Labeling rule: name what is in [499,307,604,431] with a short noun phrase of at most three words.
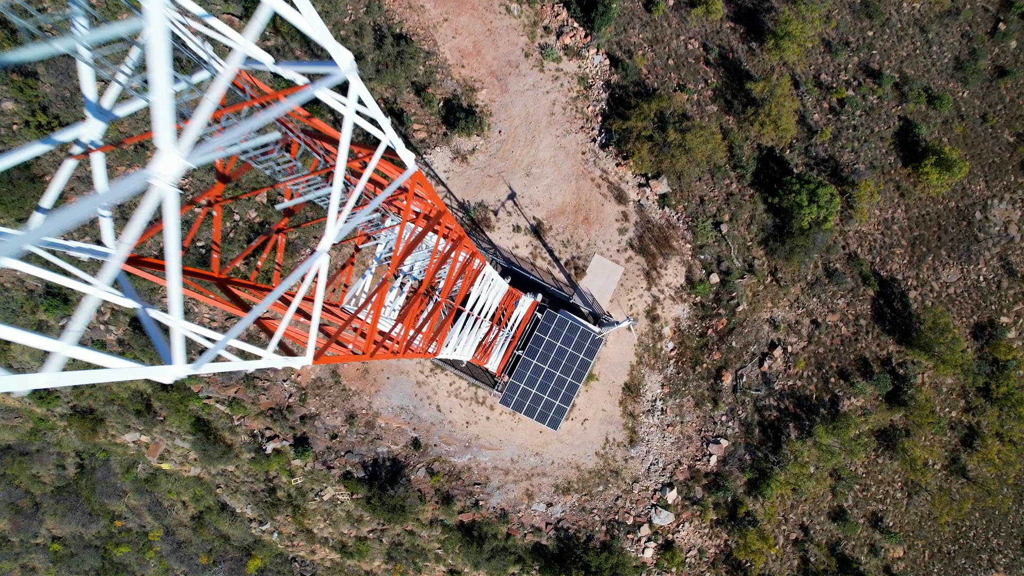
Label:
solar array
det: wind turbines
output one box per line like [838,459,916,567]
[596,300,642,338]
